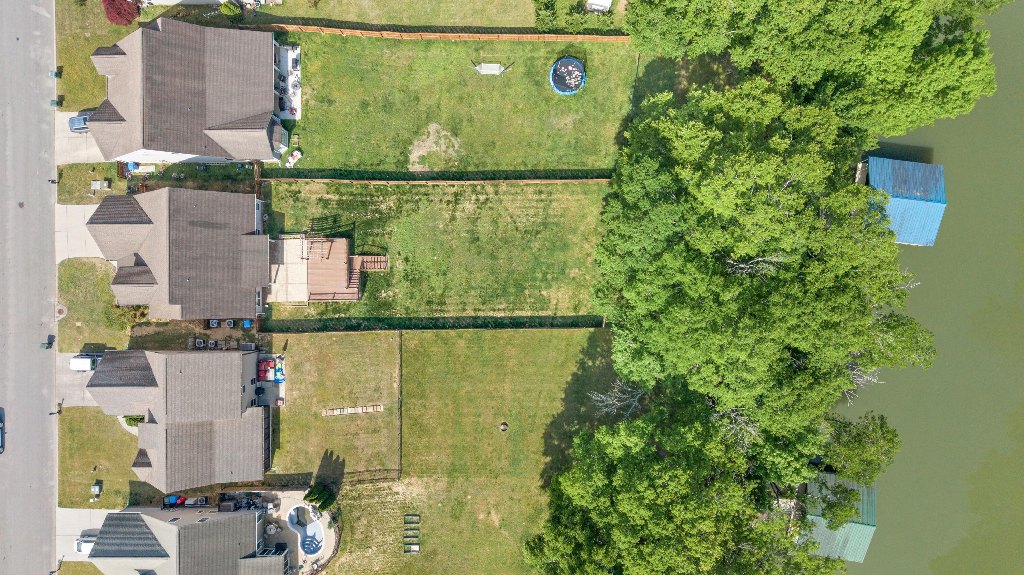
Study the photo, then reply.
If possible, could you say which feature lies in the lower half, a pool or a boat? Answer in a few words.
pool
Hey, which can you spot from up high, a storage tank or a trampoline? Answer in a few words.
trampoline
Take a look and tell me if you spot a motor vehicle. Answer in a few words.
Yes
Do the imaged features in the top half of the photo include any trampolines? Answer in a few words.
Yes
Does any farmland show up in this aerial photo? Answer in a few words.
No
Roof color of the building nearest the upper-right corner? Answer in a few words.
blue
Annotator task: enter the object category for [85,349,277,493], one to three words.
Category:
house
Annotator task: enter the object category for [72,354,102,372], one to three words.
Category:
car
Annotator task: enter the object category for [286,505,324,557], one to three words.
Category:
swimming pool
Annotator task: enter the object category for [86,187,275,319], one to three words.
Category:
house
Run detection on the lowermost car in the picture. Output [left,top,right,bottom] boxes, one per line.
[75,534,97,552]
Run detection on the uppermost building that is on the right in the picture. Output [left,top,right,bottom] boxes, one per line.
[861,156,947,246]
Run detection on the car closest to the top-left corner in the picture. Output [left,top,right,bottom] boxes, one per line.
[68,116,92,136]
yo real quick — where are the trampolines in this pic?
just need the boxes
[550,53,586,95]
